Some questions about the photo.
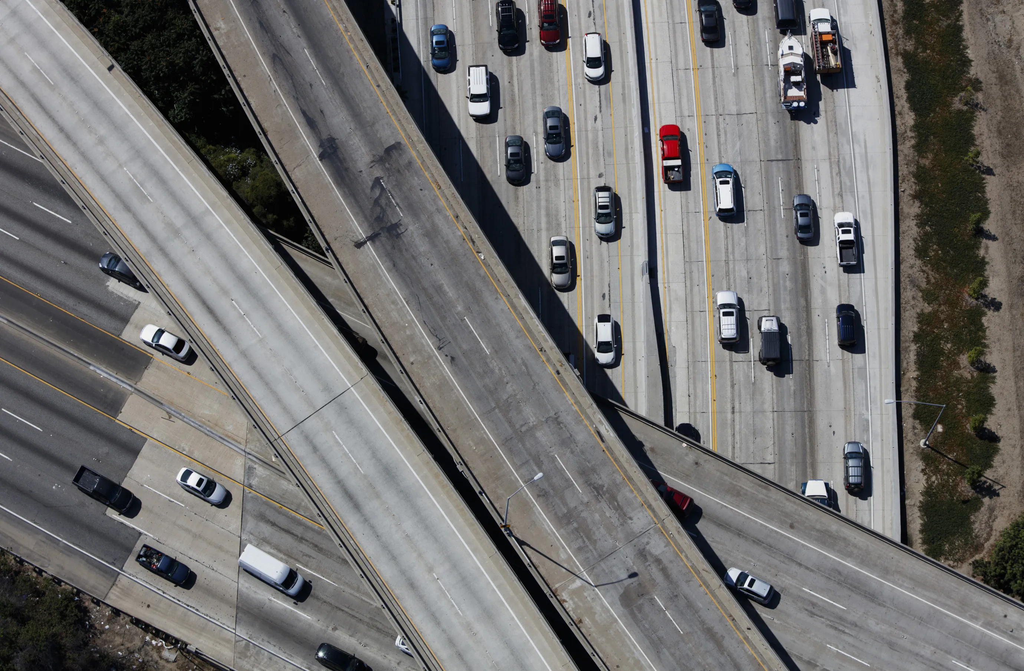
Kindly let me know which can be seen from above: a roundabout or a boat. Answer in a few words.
boat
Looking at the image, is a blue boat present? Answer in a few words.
No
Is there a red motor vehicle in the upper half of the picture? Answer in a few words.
Yes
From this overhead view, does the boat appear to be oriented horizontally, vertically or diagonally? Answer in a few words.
vertically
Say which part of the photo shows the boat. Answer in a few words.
top right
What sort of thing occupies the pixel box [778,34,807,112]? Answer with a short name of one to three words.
boat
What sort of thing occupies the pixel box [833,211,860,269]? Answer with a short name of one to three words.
truck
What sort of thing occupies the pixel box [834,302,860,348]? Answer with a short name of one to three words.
car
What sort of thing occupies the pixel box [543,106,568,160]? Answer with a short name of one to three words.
car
